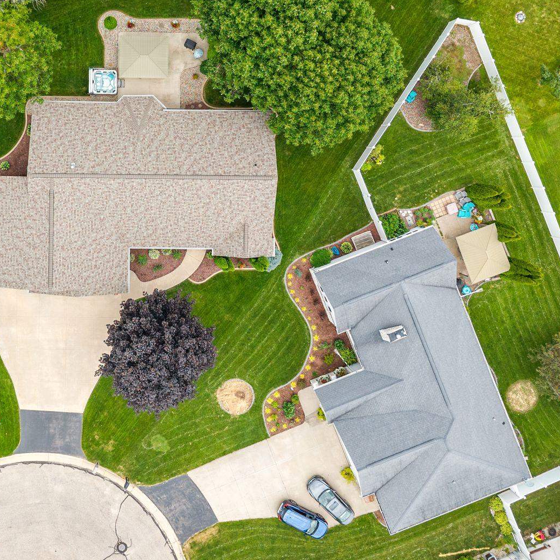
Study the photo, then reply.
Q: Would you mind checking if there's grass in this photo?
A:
Yes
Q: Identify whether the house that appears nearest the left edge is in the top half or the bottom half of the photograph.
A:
top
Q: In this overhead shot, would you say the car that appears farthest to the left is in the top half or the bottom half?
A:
bottom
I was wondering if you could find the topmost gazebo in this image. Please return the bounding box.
[119,32,169,80]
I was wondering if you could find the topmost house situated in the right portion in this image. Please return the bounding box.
[310,224,534,536]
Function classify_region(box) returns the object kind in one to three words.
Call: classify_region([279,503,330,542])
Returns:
car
